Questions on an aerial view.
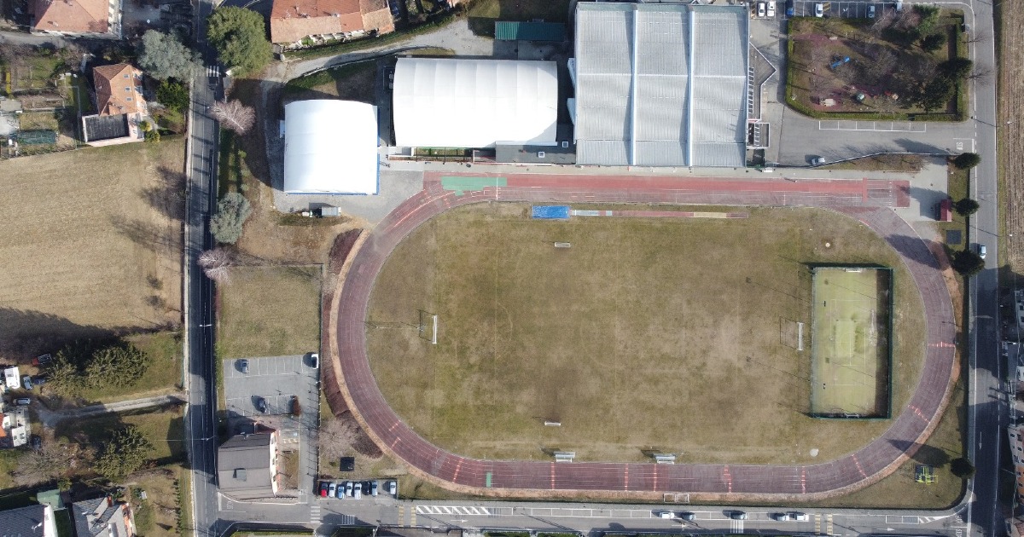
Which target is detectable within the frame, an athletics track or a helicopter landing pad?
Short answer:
athletics track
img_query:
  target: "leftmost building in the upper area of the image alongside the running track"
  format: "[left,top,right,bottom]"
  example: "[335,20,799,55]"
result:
[285,99,380,194]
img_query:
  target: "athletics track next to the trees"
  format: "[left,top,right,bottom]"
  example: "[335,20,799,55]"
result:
[337,172,955,494]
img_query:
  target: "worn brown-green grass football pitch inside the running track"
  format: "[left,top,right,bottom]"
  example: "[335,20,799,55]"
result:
[366,201,927,466]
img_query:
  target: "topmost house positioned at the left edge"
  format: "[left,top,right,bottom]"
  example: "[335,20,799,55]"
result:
[33,0,121,39]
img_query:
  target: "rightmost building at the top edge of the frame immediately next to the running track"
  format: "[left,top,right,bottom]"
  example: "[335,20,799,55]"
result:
[567,1,750,170]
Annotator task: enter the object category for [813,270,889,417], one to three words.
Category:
sports court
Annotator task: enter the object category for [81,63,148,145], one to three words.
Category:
house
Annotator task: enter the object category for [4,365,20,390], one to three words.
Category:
camper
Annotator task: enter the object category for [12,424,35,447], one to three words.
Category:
shed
